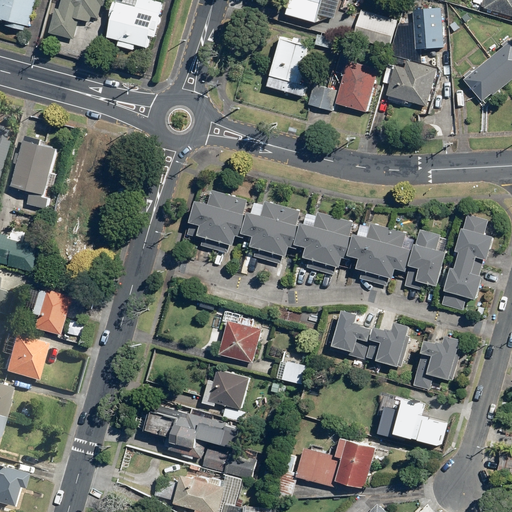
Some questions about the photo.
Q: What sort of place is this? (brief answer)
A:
residential area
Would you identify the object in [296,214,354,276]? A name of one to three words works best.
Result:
house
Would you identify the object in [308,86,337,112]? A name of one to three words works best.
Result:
building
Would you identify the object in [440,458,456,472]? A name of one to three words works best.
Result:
vehicle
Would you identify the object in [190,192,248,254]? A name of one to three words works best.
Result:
house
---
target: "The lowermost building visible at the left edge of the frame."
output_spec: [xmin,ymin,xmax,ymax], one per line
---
[0,462,32,508]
